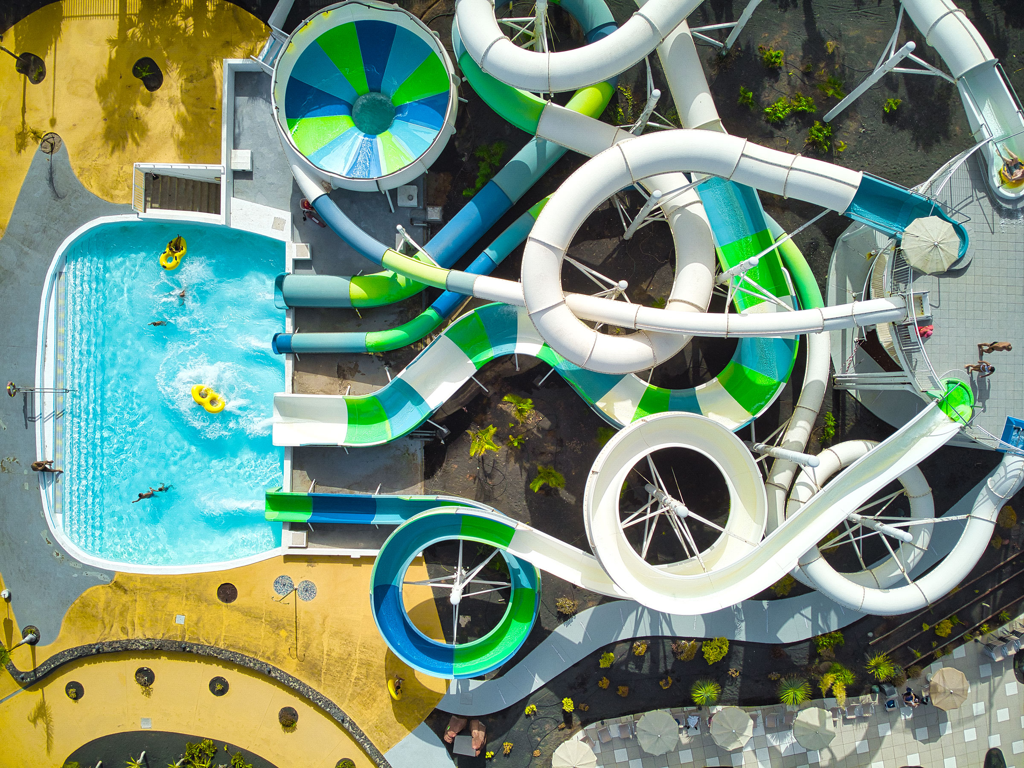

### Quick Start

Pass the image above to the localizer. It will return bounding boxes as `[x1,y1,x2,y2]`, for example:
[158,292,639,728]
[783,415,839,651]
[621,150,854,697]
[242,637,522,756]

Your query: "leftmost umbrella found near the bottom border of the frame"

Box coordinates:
[552,735,595,768]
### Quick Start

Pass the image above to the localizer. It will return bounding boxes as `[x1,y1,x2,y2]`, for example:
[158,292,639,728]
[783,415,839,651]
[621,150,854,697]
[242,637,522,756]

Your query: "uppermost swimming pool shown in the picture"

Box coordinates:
[356,94,397,135]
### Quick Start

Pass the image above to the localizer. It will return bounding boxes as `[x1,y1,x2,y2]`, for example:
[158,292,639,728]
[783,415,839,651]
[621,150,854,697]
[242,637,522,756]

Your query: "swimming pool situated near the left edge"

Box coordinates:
[34,213,286,575]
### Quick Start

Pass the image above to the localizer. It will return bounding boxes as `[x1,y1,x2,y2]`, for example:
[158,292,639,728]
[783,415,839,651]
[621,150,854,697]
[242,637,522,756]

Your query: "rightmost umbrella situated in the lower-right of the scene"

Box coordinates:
[922,664,965,707]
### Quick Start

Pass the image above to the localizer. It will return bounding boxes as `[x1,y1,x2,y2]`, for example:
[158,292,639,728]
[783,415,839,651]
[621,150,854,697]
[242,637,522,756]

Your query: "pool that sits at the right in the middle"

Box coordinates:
[982,413,1024,456]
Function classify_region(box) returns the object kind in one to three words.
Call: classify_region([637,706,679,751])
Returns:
umbrella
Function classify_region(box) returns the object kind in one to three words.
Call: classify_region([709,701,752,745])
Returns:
umbrella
